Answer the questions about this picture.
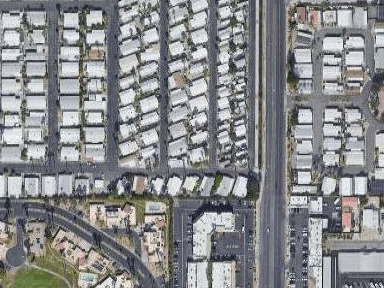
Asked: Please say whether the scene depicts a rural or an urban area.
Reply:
urban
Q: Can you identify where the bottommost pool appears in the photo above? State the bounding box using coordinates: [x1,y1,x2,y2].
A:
[79,271,98,286]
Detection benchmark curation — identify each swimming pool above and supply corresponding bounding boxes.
[79,271,98,286]
[147,202,164,213]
